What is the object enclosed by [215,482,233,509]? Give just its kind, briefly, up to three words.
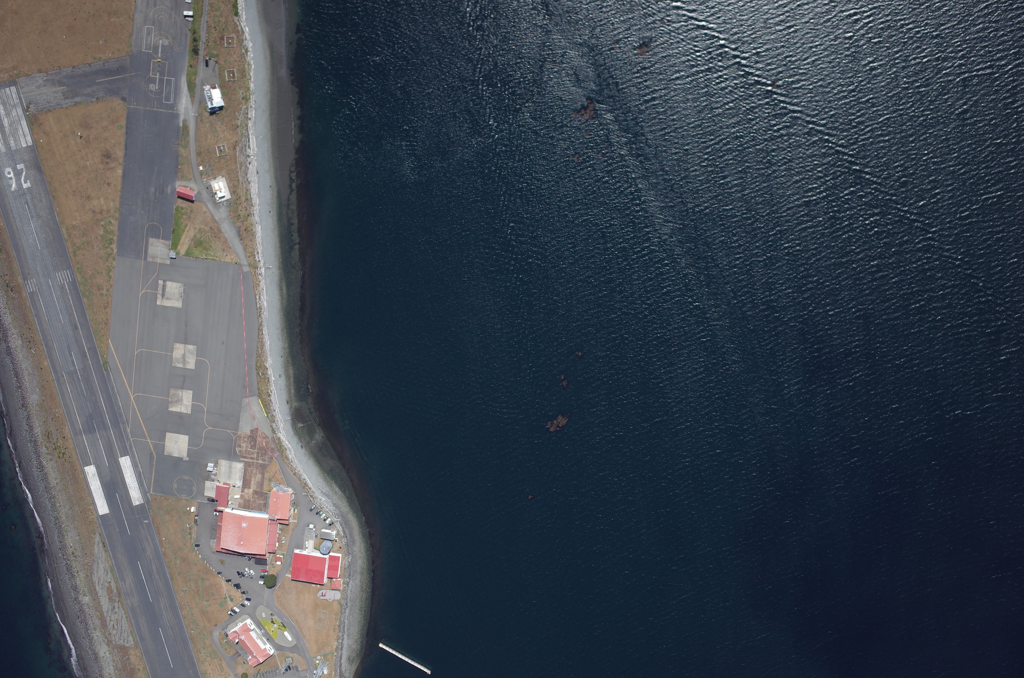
building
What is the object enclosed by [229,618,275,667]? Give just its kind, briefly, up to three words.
building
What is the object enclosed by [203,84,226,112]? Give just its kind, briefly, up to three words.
house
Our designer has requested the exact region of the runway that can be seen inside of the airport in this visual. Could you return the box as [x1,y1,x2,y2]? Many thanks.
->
[0,79,201,678]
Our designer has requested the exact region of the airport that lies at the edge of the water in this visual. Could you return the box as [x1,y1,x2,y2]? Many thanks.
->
[0,0,278,678]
